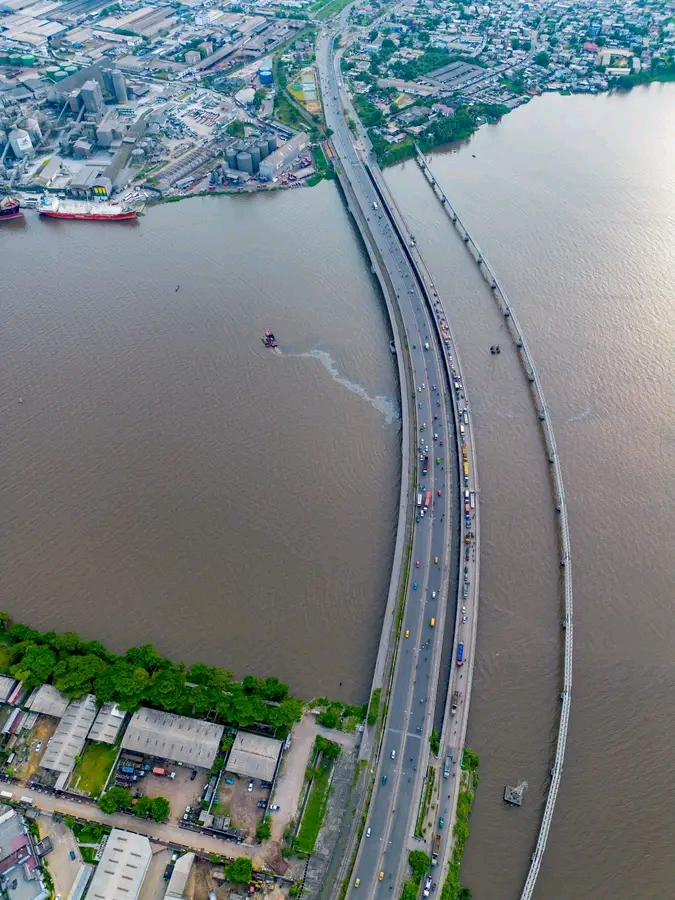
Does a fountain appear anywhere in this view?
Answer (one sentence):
No, this view has no fountain in it.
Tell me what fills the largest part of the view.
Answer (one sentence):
What you mostly see from above here is water.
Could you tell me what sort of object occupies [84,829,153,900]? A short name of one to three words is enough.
building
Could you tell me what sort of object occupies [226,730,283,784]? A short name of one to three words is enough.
building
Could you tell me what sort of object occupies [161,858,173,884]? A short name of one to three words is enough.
vehicle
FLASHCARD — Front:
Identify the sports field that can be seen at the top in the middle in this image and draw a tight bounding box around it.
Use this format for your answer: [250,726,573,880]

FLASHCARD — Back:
[287,71,322,115]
